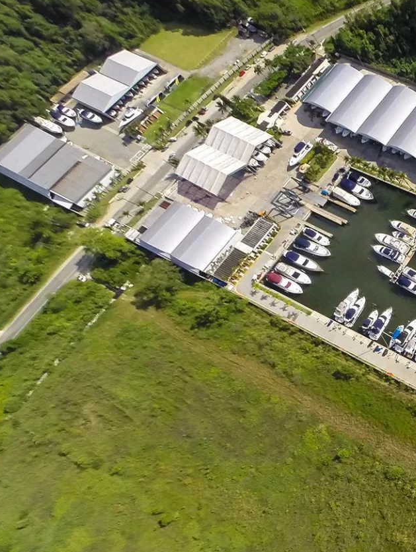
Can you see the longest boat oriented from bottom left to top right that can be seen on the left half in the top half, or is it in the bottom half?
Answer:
top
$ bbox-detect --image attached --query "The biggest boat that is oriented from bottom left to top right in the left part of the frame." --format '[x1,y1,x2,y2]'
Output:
[113,106,142,127]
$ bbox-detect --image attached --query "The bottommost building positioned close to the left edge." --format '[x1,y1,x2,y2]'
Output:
[0,126,126,217]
